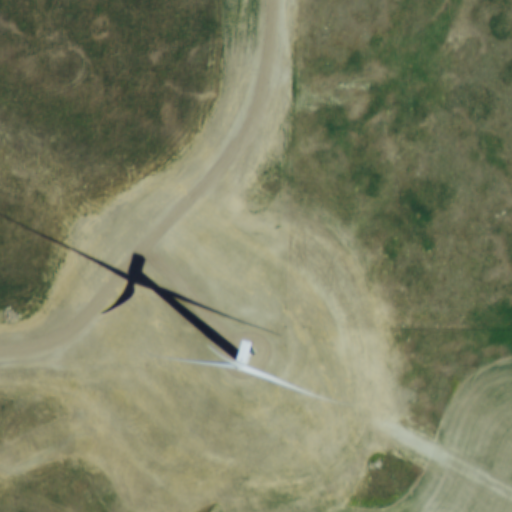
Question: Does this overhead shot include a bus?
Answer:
No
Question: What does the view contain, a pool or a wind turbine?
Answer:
wind turbine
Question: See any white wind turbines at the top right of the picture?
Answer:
No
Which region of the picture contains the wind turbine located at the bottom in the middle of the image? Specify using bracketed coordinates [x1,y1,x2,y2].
[155,338,364,407]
